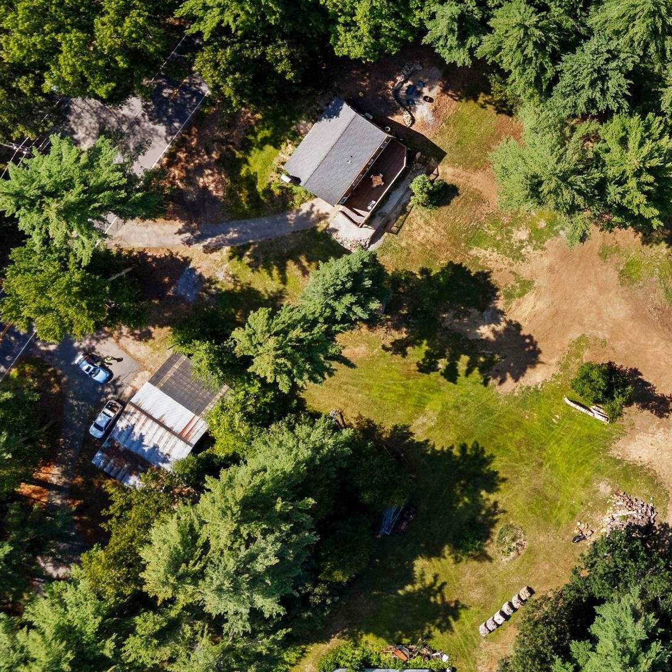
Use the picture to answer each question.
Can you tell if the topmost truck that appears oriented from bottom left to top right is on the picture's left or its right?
left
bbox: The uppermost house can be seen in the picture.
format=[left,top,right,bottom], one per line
[285,96,412,228]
